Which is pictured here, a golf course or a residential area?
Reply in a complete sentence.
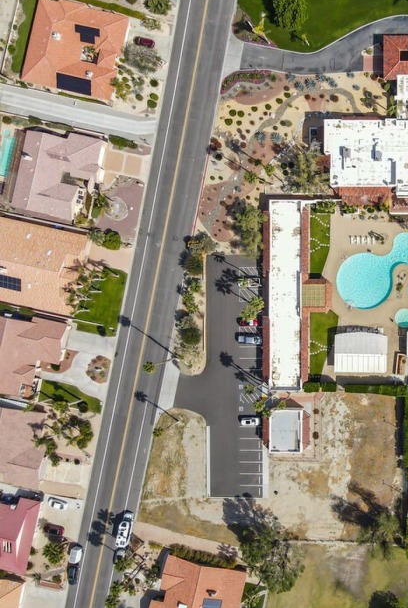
The area seen from above is a residential area.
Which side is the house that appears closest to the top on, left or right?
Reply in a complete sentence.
It is on the left.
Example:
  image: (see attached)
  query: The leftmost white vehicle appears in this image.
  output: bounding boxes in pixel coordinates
[44,497,66,510]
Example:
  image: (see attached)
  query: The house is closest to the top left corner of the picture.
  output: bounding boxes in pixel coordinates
[21,0,132,108]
